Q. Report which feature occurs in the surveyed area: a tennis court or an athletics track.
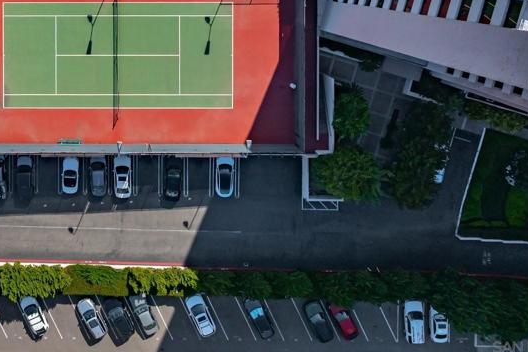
tennis court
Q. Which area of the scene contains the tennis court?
top left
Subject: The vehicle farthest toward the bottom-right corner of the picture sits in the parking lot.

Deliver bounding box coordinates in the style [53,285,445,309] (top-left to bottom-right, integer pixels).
[428,304,449,344]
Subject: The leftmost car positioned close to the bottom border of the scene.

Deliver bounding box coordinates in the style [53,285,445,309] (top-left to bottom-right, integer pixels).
[20,297,49,340]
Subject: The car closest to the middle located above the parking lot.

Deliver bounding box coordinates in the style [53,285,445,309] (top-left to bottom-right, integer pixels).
[216,157,234,196]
